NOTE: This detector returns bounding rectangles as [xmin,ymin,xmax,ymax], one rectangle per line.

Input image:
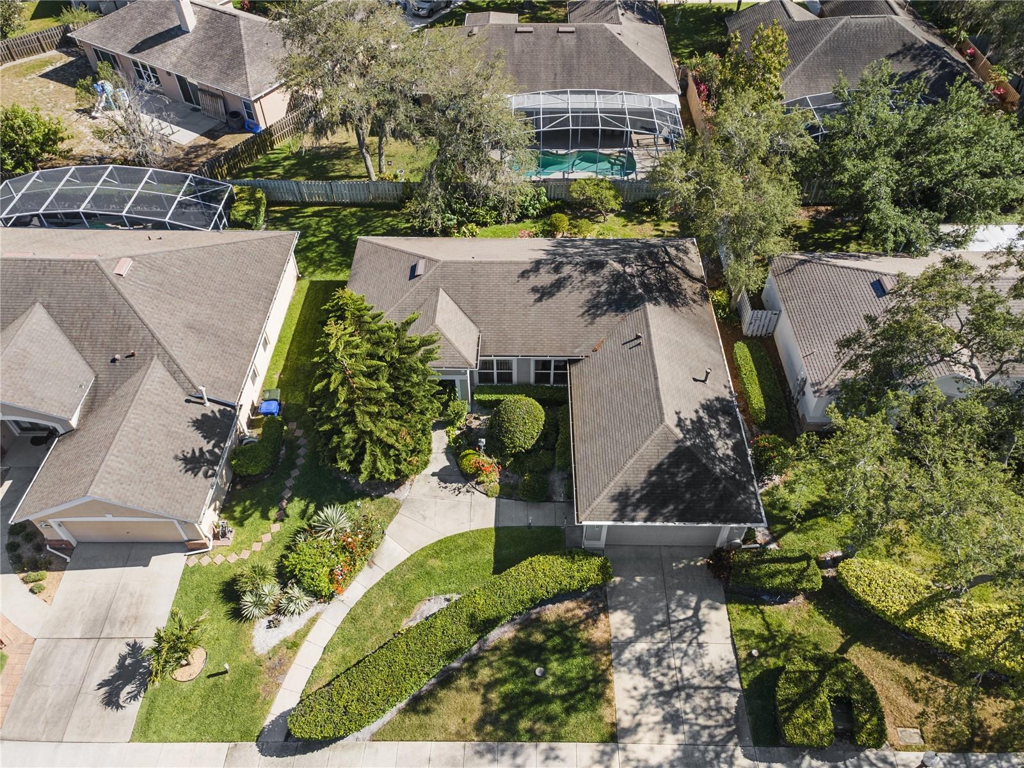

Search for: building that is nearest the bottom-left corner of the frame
[0,227,310,571]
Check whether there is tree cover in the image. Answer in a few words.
Yes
